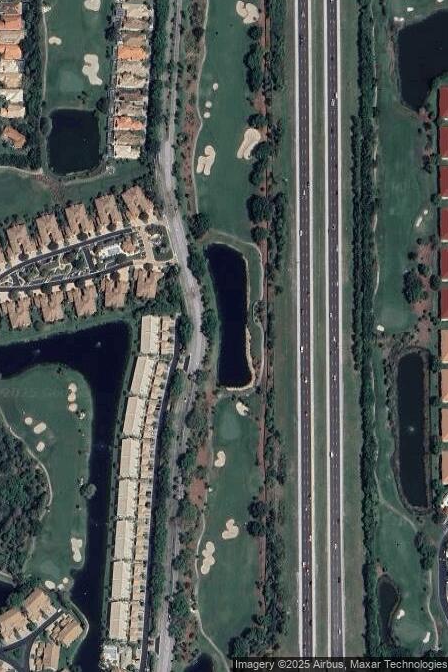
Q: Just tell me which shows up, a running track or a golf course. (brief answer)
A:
golf course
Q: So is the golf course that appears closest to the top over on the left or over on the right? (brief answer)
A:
left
